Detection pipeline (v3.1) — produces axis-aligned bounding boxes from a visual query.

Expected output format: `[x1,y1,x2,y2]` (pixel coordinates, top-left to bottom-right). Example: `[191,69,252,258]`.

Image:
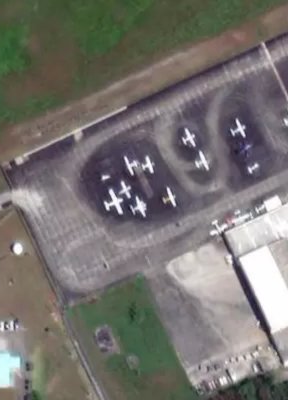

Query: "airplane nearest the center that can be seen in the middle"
[130,196,147,217]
